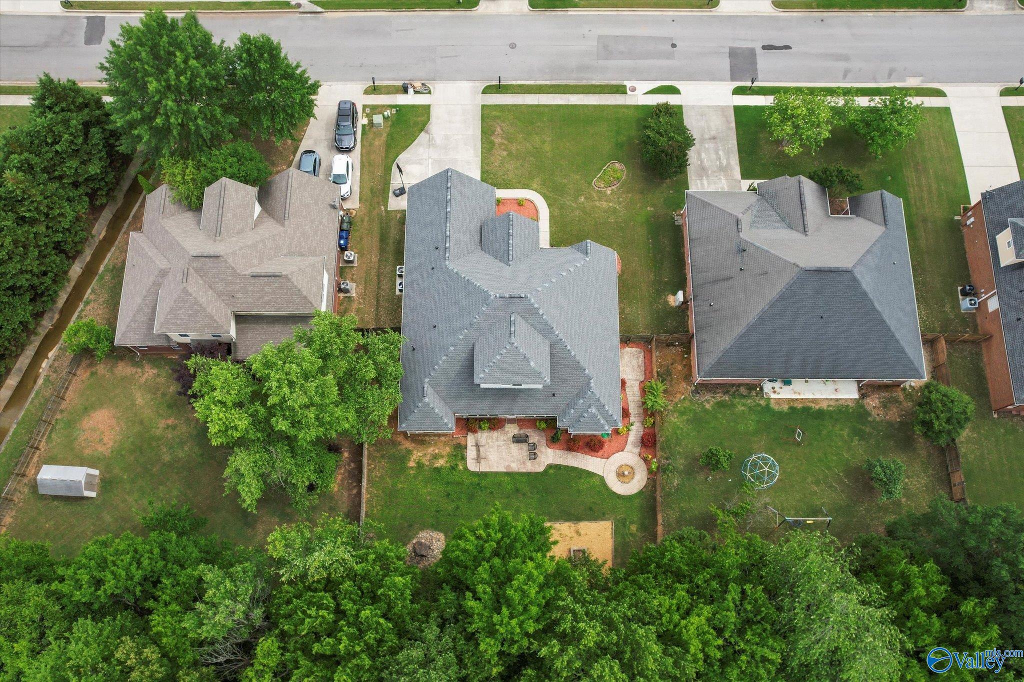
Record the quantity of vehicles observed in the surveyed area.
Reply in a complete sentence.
The number of vehicles here is 3.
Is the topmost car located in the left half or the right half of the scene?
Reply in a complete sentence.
The topmost car appears in the left half of the scene.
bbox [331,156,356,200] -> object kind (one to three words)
car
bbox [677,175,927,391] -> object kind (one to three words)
house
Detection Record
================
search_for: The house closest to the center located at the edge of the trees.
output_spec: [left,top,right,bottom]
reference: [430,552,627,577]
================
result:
[397,168,622,440]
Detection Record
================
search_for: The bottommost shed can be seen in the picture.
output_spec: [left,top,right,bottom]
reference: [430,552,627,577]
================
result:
[36,464,102,497]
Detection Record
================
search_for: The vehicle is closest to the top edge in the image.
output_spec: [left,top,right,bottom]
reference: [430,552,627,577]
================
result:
[333,105,358,152]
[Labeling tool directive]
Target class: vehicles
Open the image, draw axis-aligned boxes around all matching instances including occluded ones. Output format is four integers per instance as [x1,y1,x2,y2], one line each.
[301,148,324,178]
[333,105,358,152]
[331,156,356,200]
